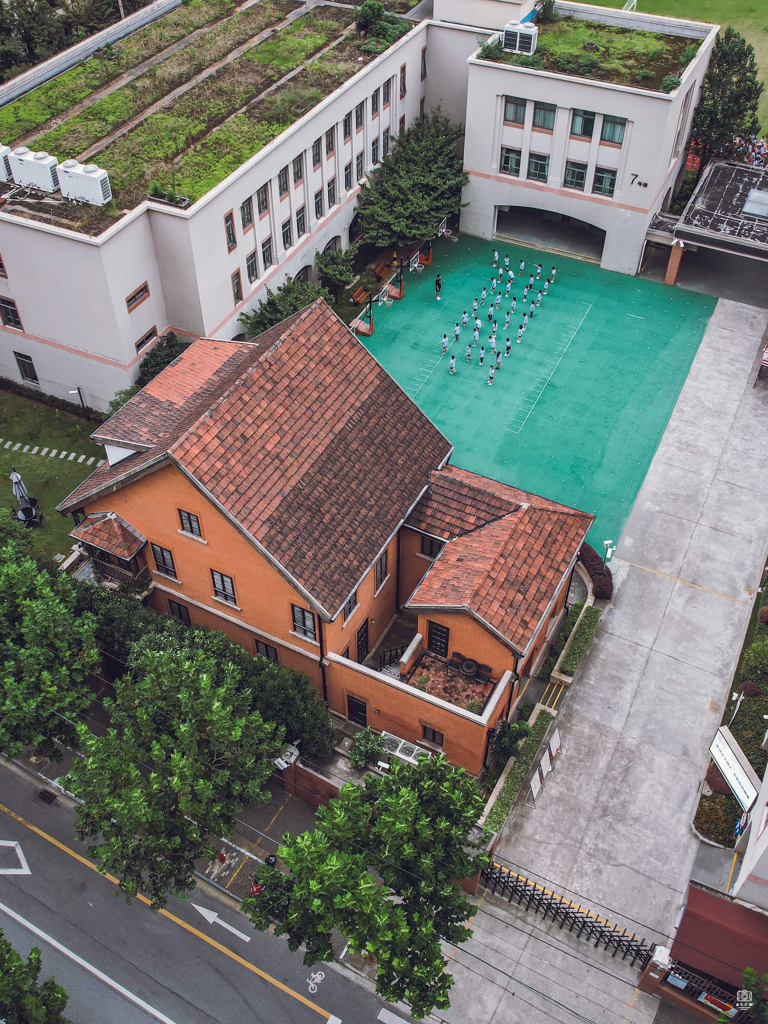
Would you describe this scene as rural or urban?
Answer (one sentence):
It looks urban.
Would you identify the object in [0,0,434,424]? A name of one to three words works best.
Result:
building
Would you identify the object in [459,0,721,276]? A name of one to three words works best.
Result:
building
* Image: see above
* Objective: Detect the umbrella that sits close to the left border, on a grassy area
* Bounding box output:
[10,465,33,508]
